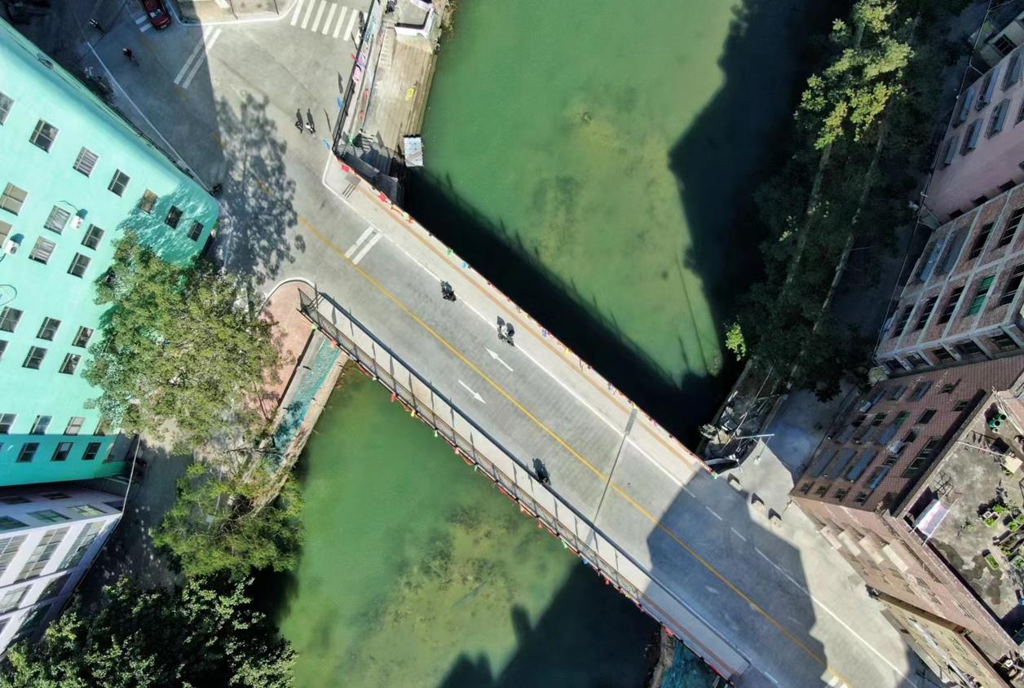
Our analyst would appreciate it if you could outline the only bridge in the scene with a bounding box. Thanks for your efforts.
[293,164,818,688]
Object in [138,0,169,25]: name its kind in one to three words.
car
